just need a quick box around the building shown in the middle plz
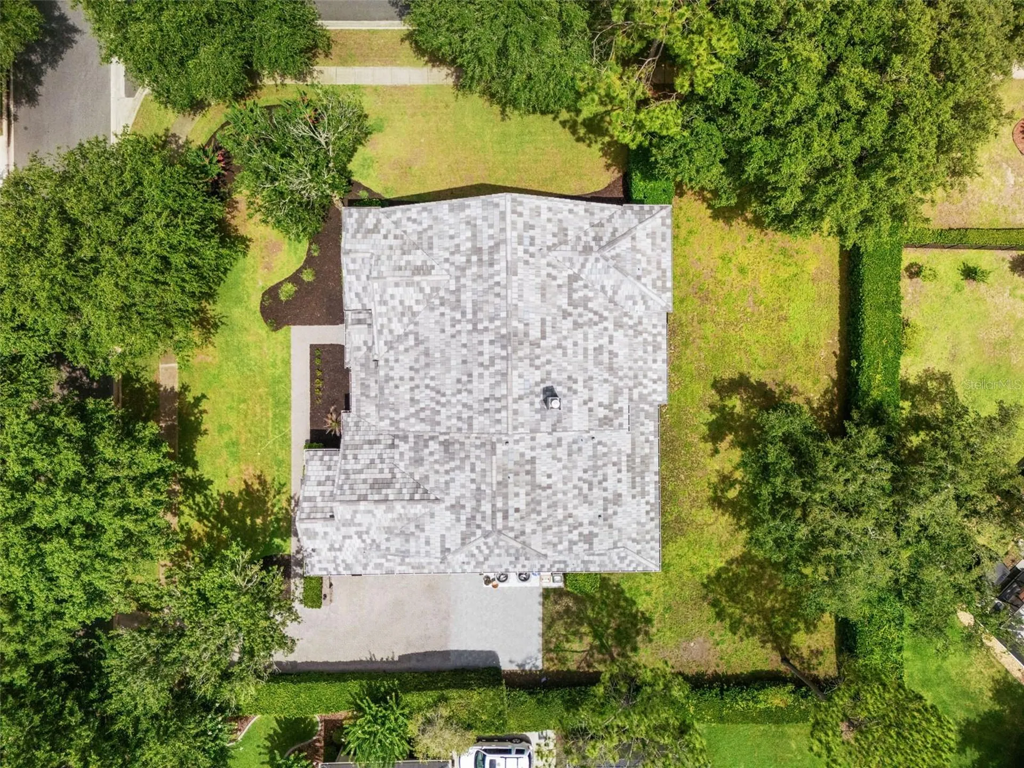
[295,192,674,577]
